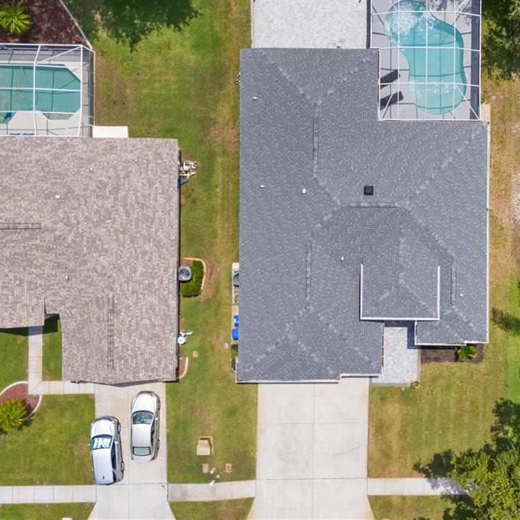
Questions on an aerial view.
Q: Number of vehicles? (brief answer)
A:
2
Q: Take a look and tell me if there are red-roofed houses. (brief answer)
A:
No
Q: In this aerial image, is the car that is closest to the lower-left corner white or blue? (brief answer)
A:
white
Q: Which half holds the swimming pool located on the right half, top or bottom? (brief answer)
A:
top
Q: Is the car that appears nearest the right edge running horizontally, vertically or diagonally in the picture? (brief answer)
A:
vertically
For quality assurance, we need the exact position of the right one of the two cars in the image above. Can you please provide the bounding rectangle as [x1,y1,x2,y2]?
[127,391,161,461]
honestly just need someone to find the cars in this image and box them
[89,416,126,485]
[127,391,161,461]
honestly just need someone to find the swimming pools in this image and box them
[381,0,470,117]
[0,62,81,127]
